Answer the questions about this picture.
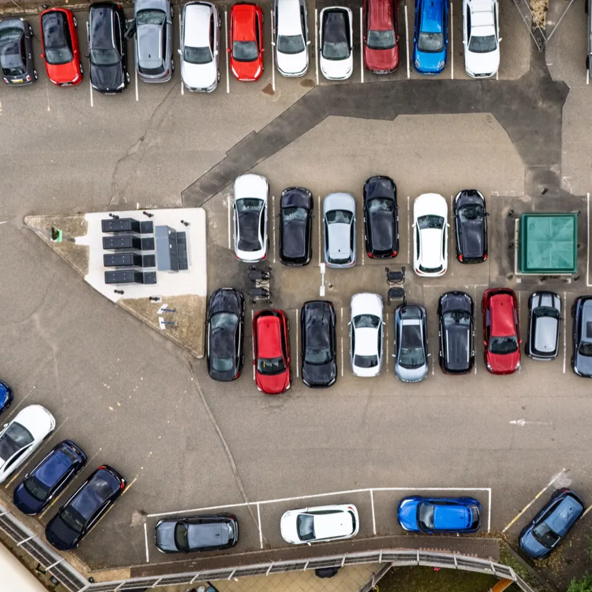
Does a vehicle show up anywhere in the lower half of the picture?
Yes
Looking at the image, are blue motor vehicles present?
Yes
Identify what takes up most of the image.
paved ground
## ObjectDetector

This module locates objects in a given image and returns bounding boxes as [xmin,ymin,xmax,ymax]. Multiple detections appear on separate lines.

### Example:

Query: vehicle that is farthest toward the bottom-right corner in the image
[517,483,588,563]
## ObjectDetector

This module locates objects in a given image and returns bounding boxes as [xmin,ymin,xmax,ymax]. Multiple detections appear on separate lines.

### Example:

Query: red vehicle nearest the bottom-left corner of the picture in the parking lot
[249,309,292,394]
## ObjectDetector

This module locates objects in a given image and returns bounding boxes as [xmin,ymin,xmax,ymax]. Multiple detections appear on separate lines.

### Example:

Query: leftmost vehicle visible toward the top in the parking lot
[0,21,37,88]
